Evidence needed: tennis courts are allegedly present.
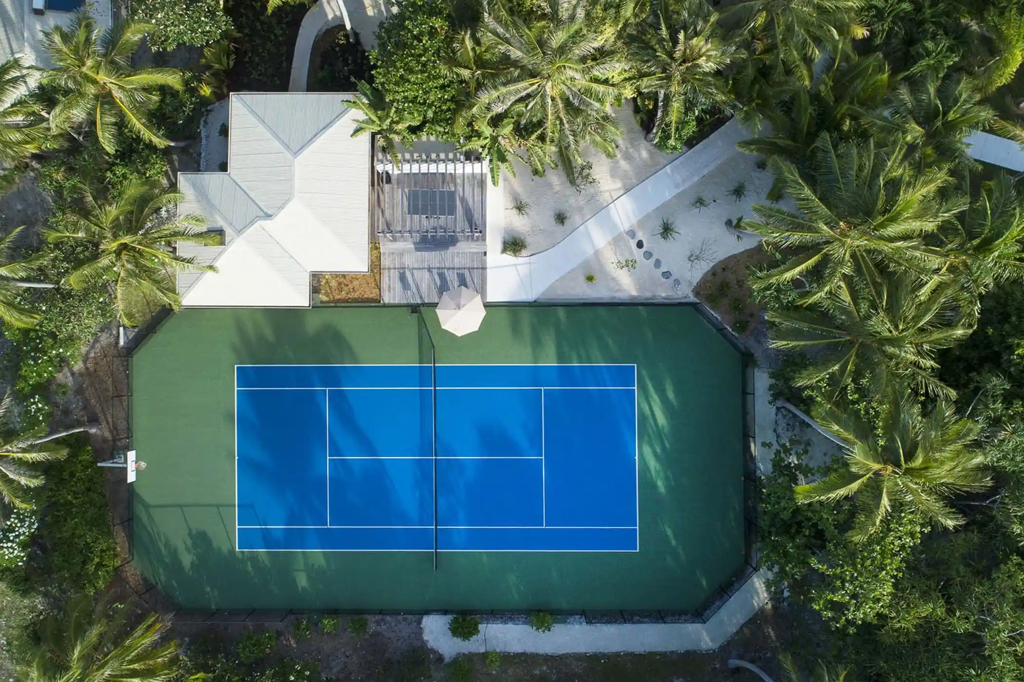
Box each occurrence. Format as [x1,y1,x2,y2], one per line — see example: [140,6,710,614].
[132,305,745,610]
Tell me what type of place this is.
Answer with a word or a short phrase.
sports ground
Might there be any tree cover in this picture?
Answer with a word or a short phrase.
Yes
